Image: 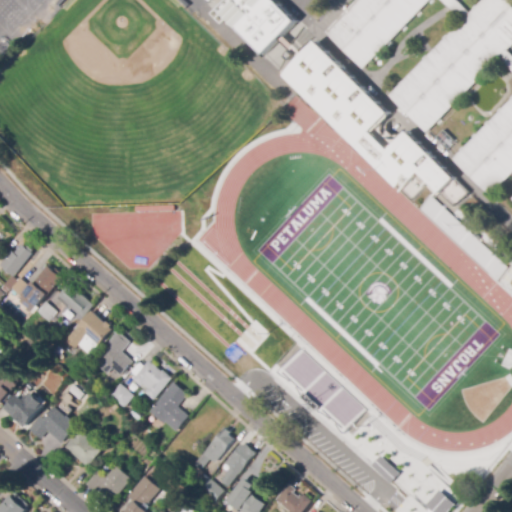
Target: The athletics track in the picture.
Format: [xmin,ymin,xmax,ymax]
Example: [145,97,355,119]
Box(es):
[198,95,512,450]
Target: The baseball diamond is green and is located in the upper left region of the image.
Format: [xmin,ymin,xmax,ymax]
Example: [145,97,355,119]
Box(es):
[0,0,270,206]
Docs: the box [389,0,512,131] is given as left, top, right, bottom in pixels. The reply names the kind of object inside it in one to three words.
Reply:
building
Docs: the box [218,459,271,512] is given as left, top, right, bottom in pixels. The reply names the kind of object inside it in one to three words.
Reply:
house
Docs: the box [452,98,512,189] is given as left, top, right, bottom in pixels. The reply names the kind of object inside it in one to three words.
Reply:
building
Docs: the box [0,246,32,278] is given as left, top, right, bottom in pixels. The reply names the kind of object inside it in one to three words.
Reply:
house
